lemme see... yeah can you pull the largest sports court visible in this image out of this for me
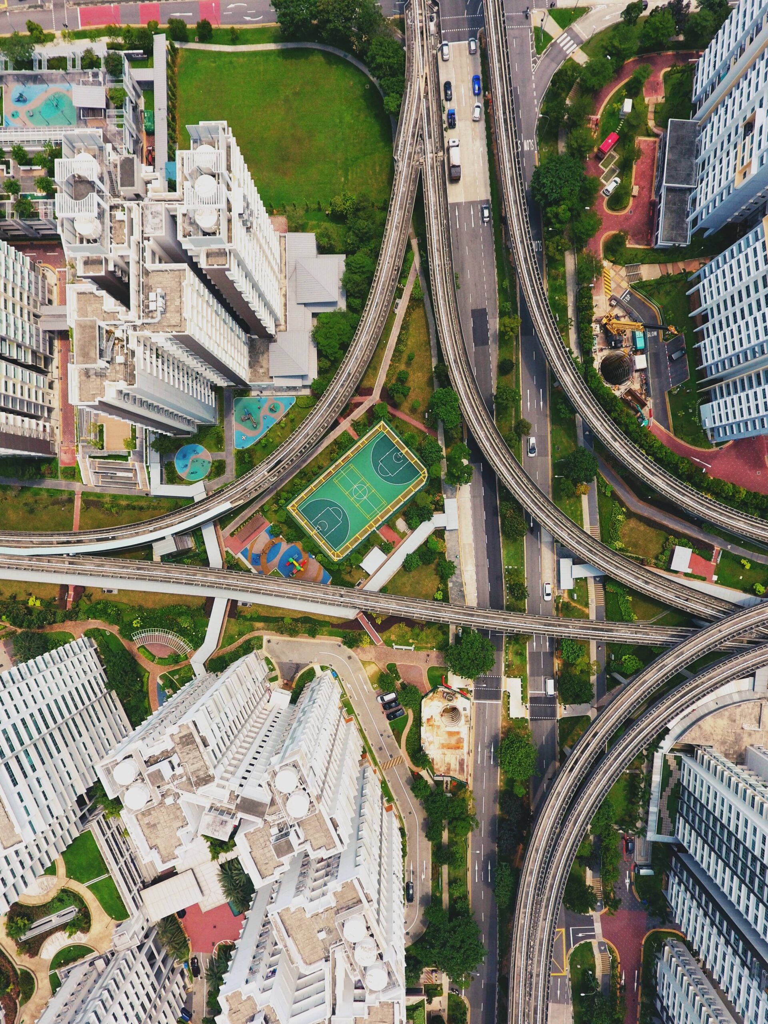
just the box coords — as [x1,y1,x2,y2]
[283,418,427,565]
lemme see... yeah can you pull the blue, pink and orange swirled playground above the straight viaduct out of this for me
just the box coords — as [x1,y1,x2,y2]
[240,523,332,584]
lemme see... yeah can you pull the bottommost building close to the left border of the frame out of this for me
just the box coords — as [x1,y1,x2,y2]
[36,945,197,1024]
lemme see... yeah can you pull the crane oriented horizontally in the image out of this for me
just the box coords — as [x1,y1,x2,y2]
[593,311,678,350]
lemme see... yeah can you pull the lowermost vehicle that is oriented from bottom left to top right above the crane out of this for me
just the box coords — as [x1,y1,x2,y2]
[604,176,621,198]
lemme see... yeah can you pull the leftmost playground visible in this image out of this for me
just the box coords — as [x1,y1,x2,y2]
[174,444,211,481]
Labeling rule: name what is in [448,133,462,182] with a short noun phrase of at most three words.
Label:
vehicle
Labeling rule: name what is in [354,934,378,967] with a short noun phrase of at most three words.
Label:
water tank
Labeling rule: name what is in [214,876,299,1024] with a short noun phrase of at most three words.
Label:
building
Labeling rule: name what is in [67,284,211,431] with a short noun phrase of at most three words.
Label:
building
